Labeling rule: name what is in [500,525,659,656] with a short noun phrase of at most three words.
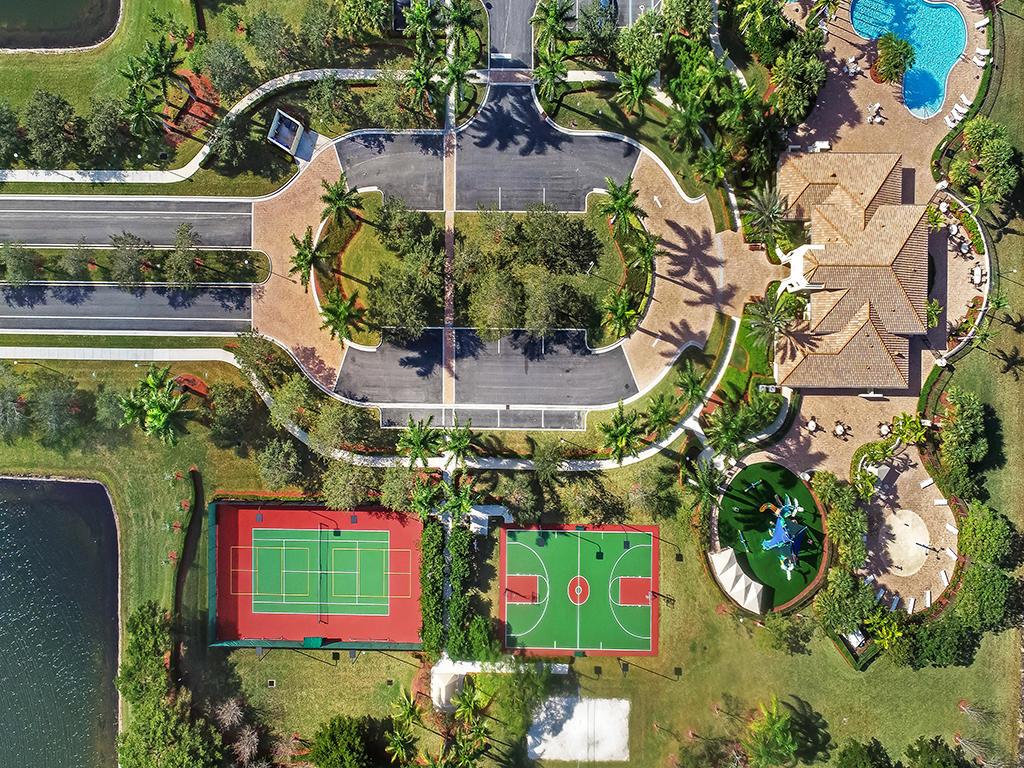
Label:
basketball court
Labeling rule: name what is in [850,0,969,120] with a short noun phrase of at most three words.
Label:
swimming pool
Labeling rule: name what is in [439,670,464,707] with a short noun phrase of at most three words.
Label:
building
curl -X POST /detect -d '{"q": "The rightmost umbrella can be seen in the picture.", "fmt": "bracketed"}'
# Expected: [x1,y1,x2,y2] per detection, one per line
[875,461,891,482]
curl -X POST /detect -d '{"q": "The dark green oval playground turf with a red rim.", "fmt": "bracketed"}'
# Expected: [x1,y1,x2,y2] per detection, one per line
[717,460,831,618]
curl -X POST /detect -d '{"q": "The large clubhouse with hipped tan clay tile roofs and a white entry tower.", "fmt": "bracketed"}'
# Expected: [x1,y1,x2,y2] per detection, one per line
[768,152,928,388]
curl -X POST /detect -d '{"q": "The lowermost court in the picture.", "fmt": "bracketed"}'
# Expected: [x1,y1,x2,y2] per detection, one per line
[529,699,630,761]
